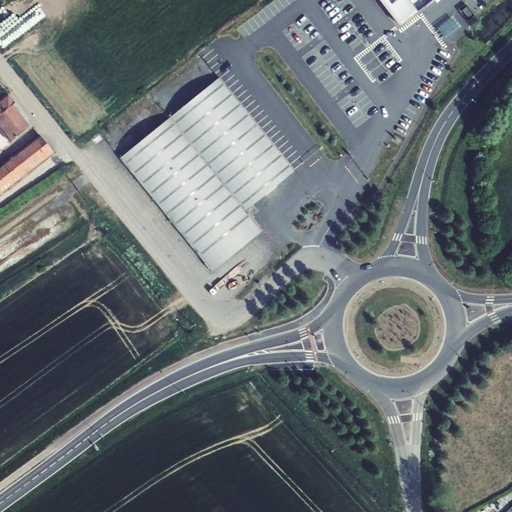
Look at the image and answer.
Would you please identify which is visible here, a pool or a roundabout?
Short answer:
roundabout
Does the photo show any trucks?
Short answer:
Yes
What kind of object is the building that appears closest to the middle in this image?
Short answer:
warehouse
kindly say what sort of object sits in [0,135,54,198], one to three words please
barn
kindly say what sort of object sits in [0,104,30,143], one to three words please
house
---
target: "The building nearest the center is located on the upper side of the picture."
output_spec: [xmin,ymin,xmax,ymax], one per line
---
[121,78,294,270]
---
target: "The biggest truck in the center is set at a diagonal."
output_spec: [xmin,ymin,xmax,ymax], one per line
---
[208,260,250,296]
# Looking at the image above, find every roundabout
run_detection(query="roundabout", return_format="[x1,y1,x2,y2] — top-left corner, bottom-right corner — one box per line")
[323,258,467,396]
